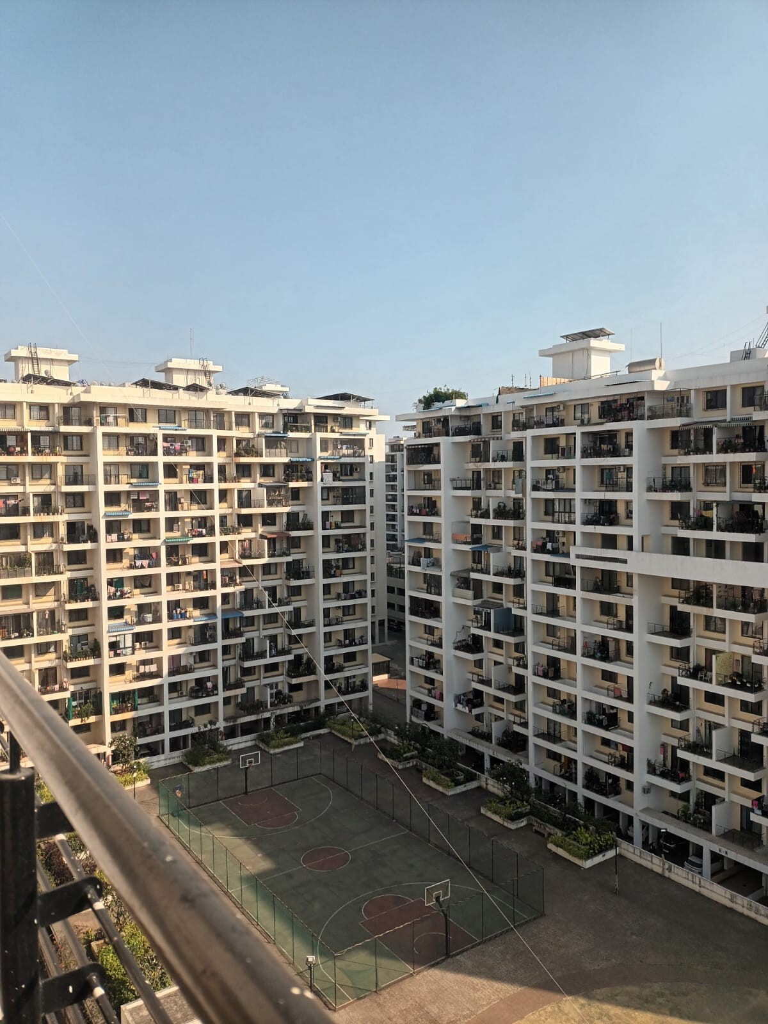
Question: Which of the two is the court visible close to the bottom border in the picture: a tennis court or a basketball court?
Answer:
basketball court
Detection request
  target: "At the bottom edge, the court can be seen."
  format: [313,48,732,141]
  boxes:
[162,775,541,1006]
